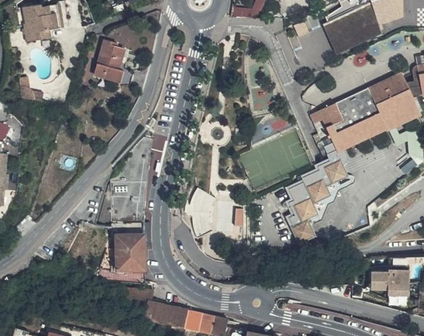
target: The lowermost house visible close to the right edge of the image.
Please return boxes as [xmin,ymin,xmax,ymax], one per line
[371,270,410,306]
